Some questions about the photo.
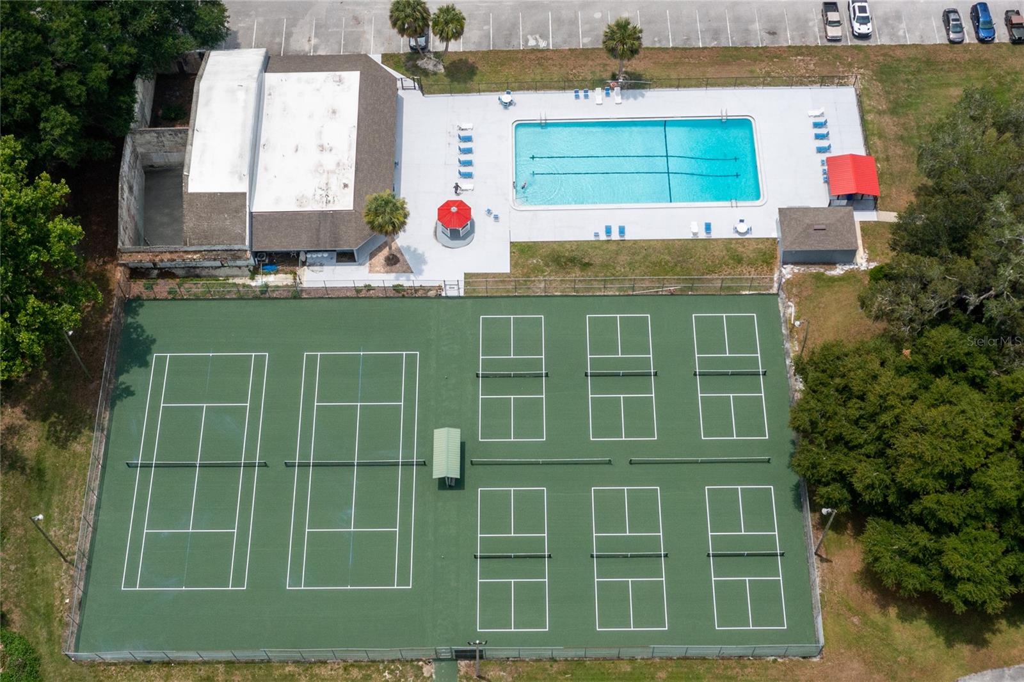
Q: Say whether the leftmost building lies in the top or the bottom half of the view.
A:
top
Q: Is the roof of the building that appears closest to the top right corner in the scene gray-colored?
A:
No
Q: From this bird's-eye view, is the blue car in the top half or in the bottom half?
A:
top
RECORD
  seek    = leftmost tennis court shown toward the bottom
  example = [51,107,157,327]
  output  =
[120,351,270,591]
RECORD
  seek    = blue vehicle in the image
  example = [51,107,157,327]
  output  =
[971,2,996,41]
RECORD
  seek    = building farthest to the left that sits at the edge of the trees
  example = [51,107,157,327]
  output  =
[183,48,269,253]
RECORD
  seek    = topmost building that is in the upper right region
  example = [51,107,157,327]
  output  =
[825,151,880,219]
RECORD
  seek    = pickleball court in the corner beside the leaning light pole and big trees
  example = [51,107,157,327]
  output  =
[704,485,788,630]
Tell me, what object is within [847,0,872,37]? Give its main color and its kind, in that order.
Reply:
white truck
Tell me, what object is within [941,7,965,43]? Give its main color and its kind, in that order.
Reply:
gray car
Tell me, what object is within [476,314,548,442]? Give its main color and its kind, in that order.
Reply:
green sports court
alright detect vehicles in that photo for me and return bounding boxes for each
[820,2,842,40]
[1002,5,1024,44]
[971,2,996,41]
[941,7,965,43]
[847,0,872,37]
[411,14,429,50]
